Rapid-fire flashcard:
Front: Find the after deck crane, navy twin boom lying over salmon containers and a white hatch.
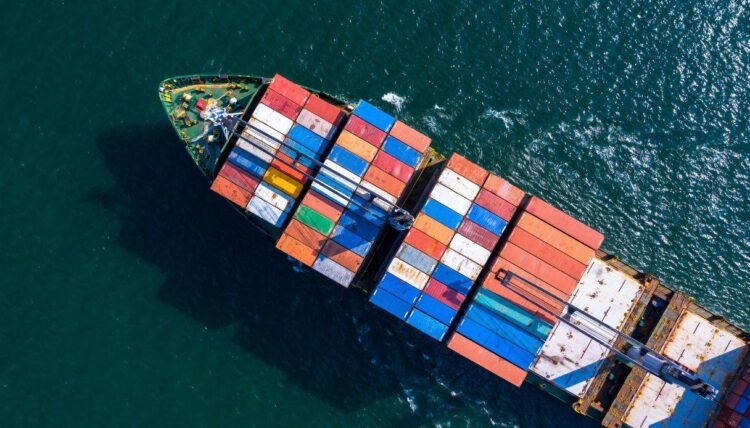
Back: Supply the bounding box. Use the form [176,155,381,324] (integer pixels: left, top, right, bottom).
[486,260,718,405]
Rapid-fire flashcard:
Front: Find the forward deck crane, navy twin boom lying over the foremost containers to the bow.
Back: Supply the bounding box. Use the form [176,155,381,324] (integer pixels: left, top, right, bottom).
[207,110,415,234]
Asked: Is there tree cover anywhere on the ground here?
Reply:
No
